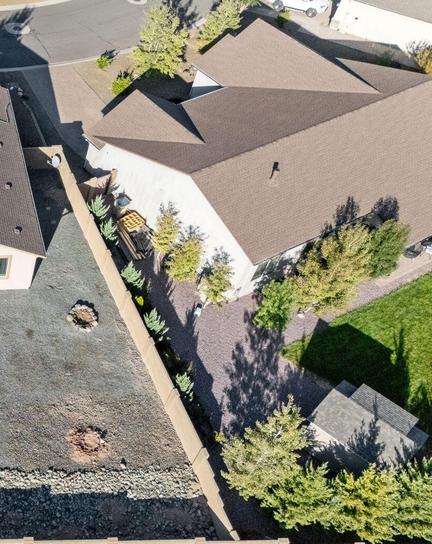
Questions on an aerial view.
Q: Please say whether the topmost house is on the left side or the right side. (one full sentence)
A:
The topmost house appears in the right half of the scene.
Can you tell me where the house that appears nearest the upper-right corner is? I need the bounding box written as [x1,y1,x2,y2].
[329,0,432,52]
